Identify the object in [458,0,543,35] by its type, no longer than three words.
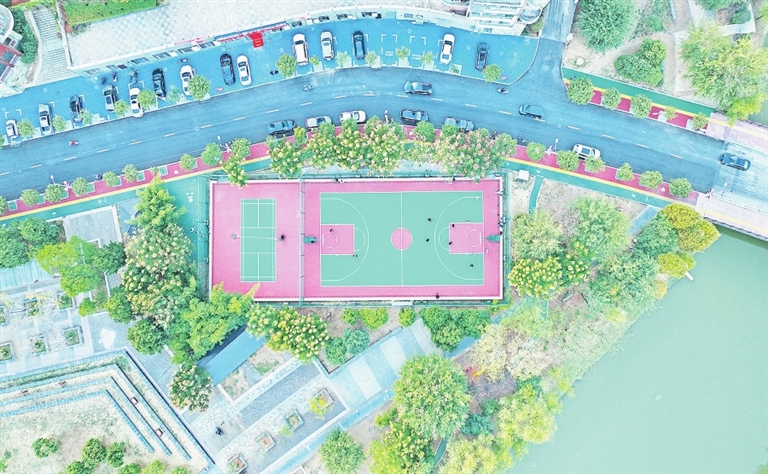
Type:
building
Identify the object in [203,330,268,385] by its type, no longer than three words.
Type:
shed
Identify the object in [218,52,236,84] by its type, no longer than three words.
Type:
car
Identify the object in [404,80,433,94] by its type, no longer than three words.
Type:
car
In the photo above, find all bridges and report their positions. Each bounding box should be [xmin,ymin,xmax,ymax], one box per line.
[685,112,768,240]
